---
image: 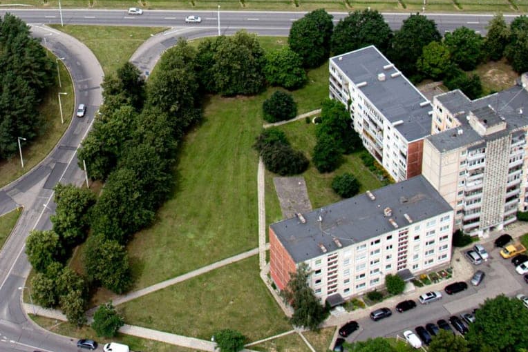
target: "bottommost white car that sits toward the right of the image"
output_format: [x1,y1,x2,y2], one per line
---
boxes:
[404,326,420,349]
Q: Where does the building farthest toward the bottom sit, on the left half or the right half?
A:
right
